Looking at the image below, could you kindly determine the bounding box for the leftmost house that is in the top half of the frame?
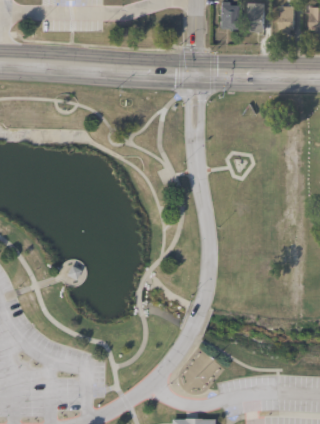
[221,2,240,31]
